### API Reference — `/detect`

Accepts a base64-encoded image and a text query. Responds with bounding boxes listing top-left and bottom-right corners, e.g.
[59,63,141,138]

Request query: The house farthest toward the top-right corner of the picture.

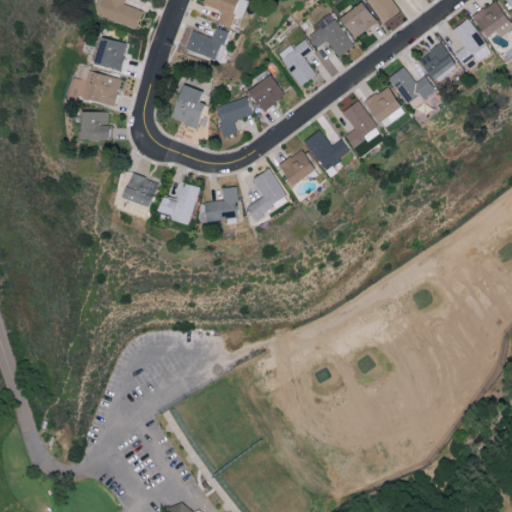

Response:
[474,2,512,37]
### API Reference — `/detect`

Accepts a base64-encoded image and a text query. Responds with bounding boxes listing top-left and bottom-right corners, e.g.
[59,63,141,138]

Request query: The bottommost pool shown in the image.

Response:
[298,182,316,196]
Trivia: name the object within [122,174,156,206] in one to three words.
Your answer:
house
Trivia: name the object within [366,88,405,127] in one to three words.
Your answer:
house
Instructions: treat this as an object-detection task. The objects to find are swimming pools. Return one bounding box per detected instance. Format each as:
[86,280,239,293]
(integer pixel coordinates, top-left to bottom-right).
[493,35,508,48]
[298,182,316,196]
